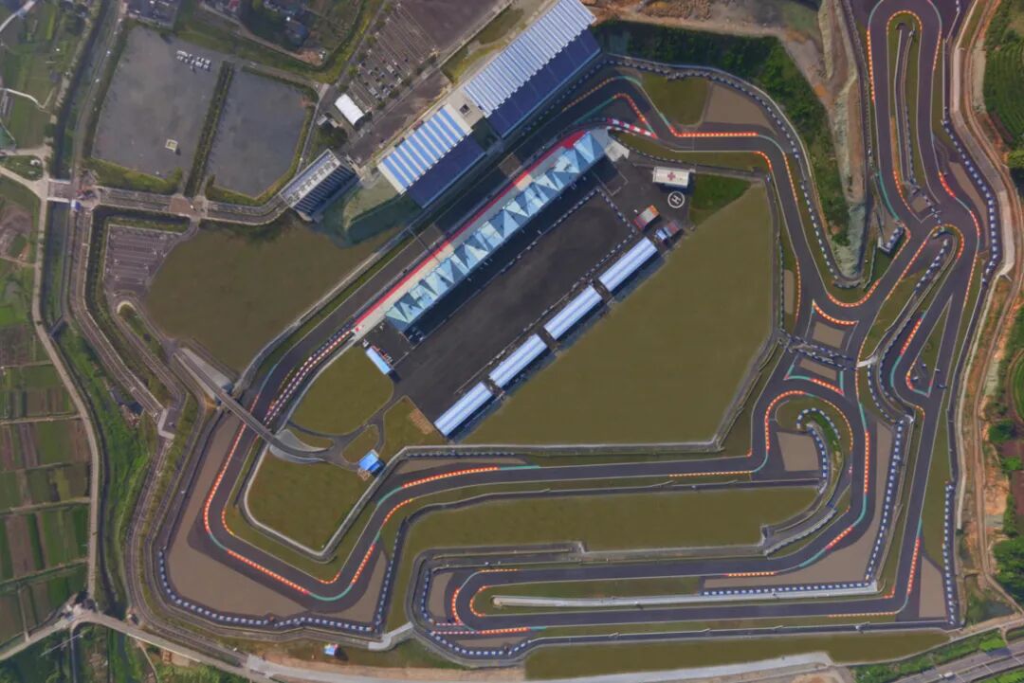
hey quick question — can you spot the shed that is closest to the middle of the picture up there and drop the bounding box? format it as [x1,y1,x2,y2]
[489,335,546,388]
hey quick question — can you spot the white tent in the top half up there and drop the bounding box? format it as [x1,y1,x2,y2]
[334,93,365,126]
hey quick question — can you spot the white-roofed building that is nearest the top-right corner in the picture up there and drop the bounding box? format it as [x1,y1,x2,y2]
[652,166,697,189]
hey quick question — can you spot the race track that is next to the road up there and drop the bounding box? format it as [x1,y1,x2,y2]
[206,0,979,632]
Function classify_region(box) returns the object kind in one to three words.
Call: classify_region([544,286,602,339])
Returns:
shed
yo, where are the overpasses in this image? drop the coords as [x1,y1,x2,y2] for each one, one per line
[174,349,325,464]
